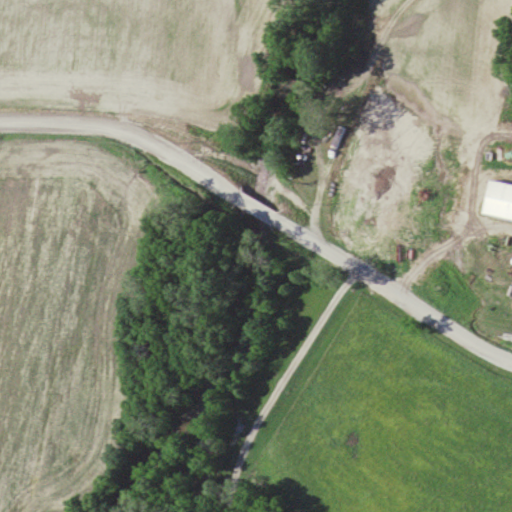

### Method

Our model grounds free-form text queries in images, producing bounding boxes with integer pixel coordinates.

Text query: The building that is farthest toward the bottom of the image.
[482,182,512,220]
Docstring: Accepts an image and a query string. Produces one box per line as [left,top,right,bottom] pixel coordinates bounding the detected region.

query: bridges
[230,190,281,230]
